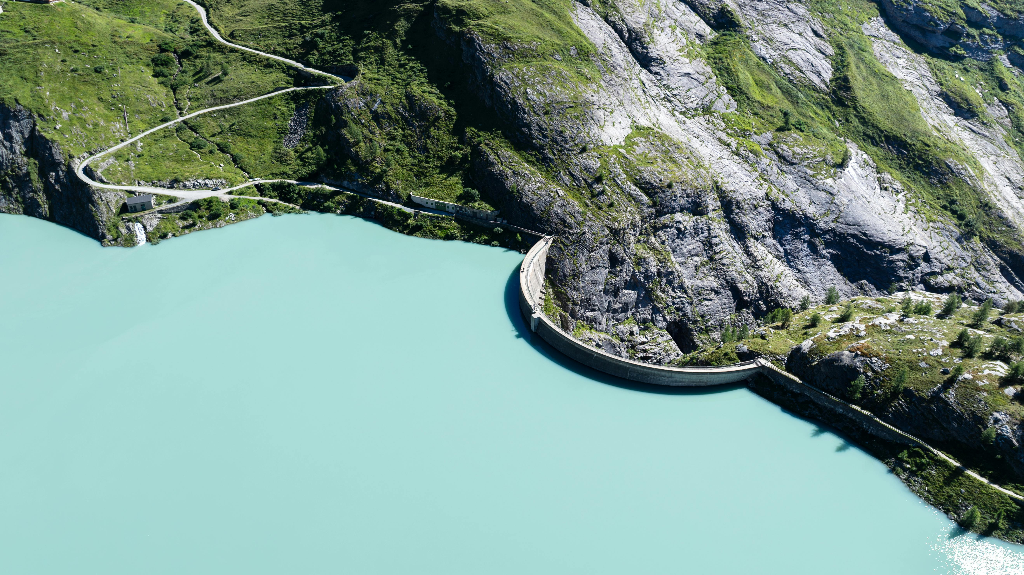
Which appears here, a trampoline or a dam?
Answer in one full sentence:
It is a dam that can be seen here.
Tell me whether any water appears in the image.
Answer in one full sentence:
Yes, water can be seen from above here.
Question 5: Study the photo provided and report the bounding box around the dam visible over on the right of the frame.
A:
[515,233,772,391]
